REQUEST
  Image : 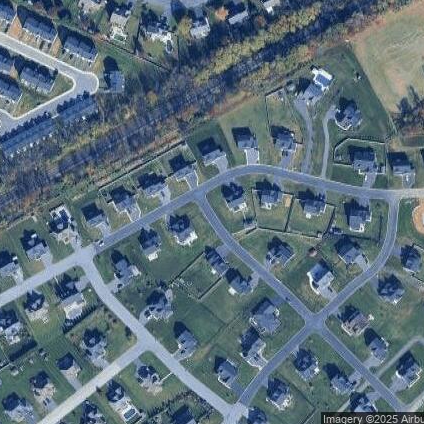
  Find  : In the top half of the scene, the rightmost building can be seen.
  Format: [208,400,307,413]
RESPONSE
[393,158,414,177]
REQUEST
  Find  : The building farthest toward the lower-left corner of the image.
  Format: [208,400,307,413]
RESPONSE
[5,402,33,424]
